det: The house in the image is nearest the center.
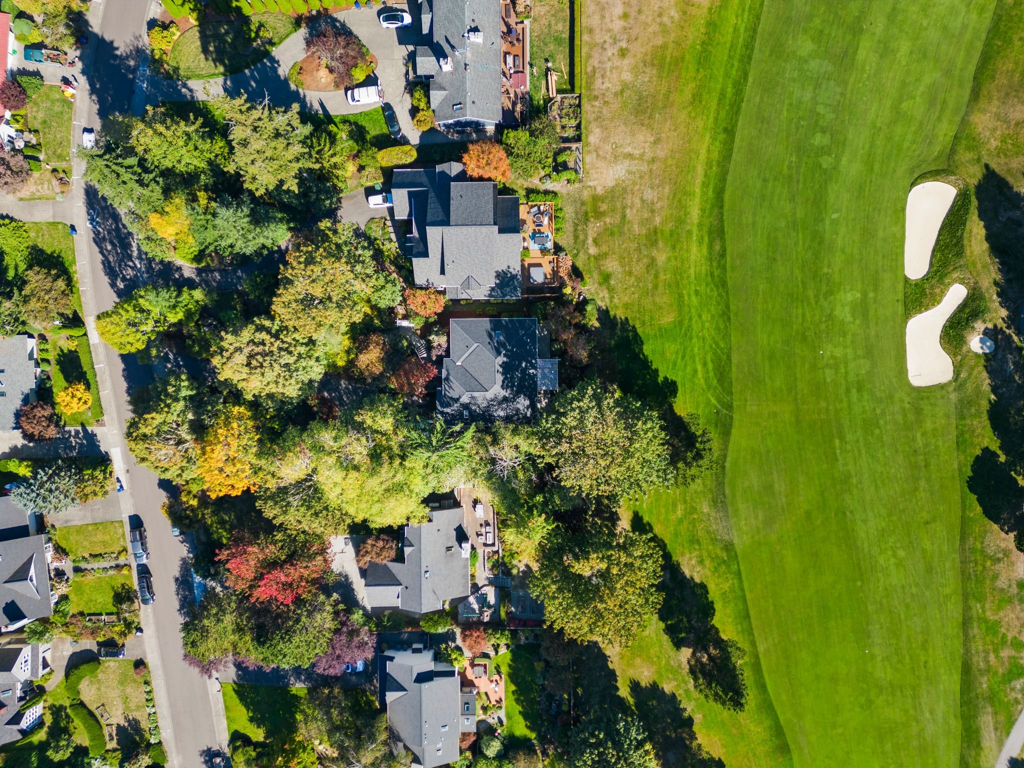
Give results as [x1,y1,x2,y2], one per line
[436,318,538,426]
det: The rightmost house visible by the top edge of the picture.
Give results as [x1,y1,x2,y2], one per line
[414,0,502,129]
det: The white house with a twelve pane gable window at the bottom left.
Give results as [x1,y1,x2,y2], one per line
[0,679,47,745]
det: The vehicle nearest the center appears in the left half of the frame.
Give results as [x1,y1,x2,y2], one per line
[370,194,392,208]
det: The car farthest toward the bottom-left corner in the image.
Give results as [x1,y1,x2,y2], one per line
[97,645,127,660]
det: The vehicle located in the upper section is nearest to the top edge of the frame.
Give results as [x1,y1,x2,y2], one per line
[381,15,410,29]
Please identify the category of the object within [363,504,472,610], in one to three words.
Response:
house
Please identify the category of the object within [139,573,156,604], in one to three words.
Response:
car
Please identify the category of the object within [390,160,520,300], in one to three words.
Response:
house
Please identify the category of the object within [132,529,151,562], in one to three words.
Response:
vehicle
